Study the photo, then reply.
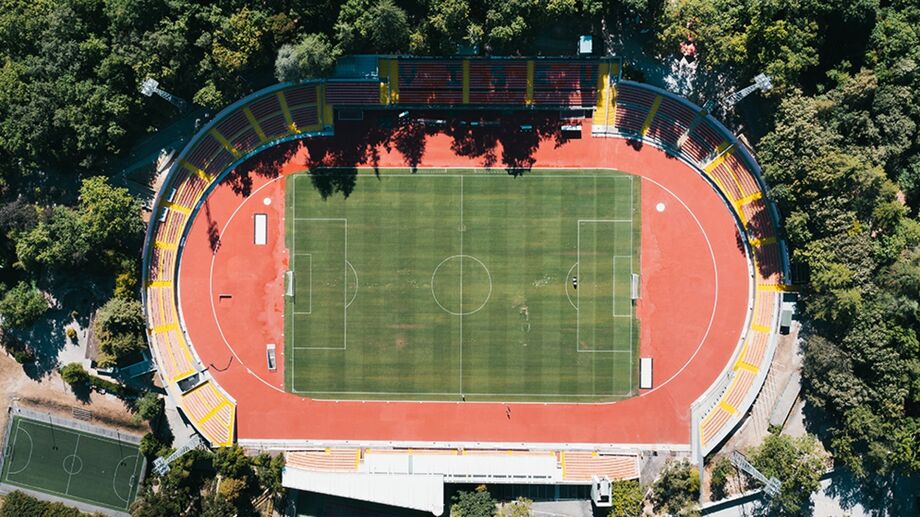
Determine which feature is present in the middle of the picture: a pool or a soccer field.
soccer field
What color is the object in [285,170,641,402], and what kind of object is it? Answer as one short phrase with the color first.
green soccer field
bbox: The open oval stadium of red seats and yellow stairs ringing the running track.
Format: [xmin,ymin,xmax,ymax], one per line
[143,57,790,514]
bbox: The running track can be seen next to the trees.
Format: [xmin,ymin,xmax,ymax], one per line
[179,111,749,444]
